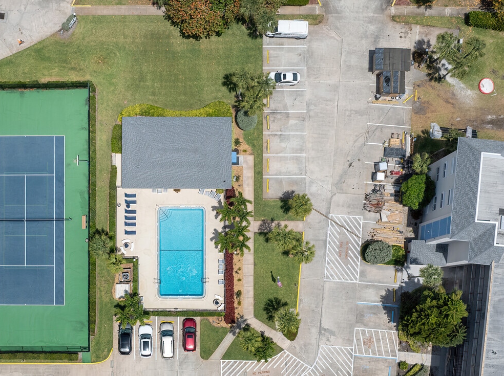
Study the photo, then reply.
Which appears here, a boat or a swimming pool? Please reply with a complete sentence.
The image shows a swimming pool.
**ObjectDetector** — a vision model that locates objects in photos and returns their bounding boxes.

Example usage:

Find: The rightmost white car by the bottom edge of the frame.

[159,323,175,360]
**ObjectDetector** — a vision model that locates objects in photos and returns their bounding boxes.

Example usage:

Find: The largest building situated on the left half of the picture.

[122,116,233,191]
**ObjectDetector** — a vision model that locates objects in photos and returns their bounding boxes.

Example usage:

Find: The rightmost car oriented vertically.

[181,319,198,352]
